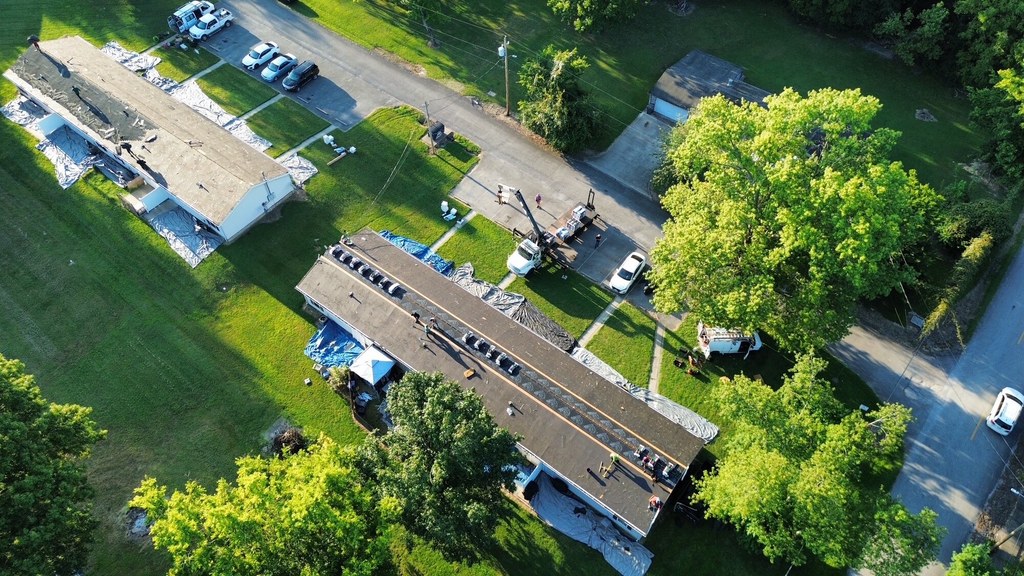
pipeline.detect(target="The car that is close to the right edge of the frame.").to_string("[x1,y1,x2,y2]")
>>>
[980,386,1024,441]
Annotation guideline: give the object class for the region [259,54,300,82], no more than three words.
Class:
car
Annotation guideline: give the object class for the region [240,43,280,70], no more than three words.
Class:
car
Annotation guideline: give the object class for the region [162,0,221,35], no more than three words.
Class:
van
